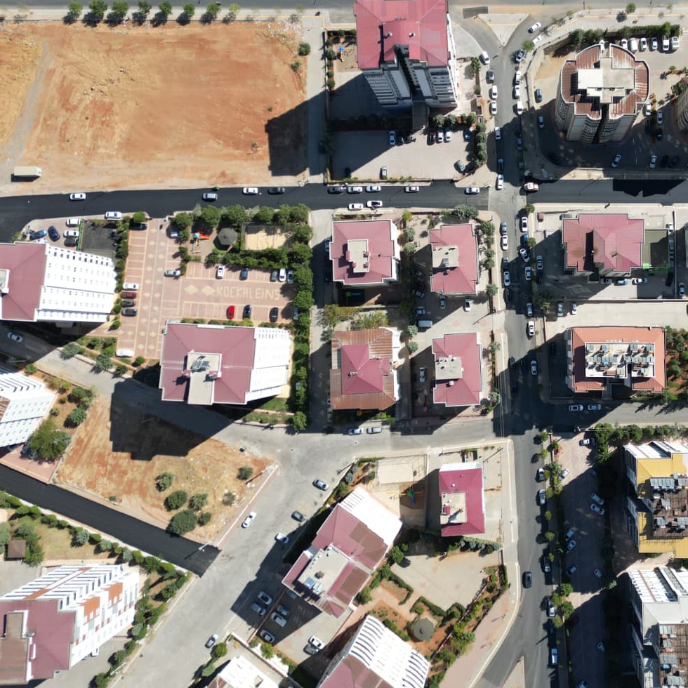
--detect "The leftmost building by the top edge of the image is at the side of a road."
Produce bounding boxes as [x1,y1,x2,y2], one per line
[354,0,458,106]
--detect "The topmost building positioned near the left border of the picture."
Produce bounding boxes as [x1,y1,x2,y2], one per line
[0,243,110,323]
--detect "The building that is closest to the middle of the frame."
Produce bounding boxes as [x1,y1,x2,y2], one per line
[330,329,401,413]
